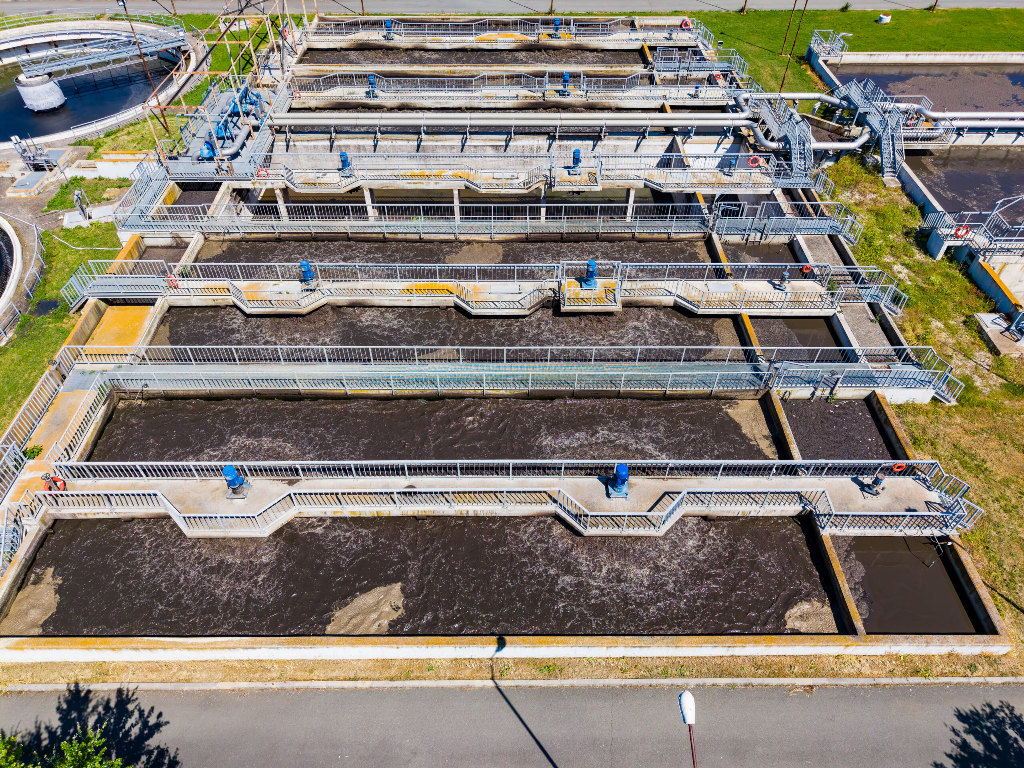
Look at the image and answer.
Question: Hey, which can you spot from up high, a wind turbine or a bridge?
bridge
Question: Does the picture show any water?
Yes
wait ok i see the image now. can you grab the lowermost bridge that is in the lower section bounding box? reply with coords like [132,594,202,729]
[31,477,960,542]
